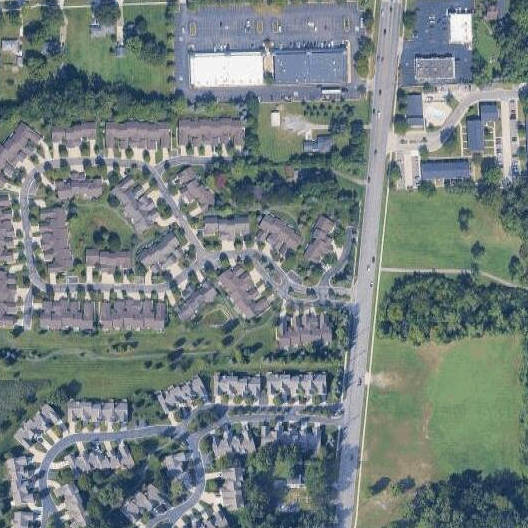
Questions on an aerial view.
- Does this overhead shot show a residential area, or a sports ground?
residential area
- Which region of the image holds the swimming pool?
top right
